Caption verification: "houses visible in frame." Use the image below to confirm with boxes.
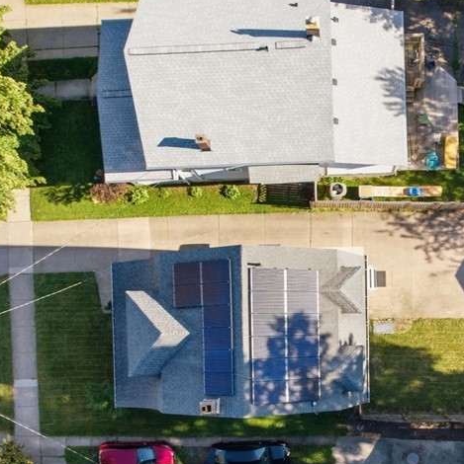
[97,0,405,194]
[110,246,385,417]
